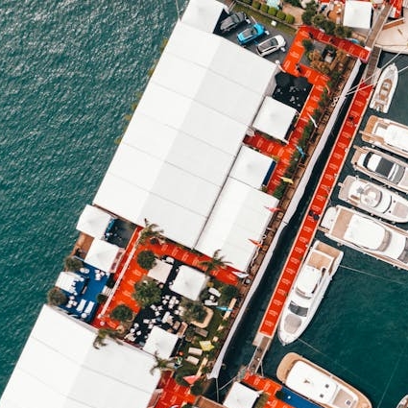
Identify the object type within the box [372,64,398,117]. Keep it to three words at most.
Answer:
boat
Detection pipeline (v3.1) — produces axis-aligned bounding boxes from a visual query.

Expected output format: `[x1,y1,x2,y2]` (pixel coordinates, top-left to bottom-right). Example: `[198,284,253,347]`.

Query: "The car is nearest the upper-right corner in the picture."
[255,34,288,57]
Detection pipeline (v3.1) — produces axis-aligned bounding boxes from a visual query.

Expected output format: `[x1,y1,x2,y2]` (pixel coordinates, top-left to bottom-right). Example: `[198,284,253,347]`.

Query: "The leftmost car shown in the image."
[220,11,246,33]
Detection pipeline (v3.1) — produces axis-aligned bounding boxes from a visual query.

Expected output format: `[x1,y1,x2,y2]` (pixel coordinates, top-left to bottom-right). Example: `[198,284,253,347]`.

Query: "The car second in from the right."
[235,21,265,45]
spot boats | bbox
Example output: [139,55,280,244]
[372,64,398,117]
[280,241,392,344]
[355,119,408,157]
[321,212,408,269]
[338,180,408,223]
[264,356,391,408]
[353,146,408,192]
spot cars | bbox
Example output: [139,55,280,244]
[235,21,265,45]
[220,11,246,33]
[255,34,288,57]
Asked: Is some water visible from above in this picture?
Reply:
Yes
